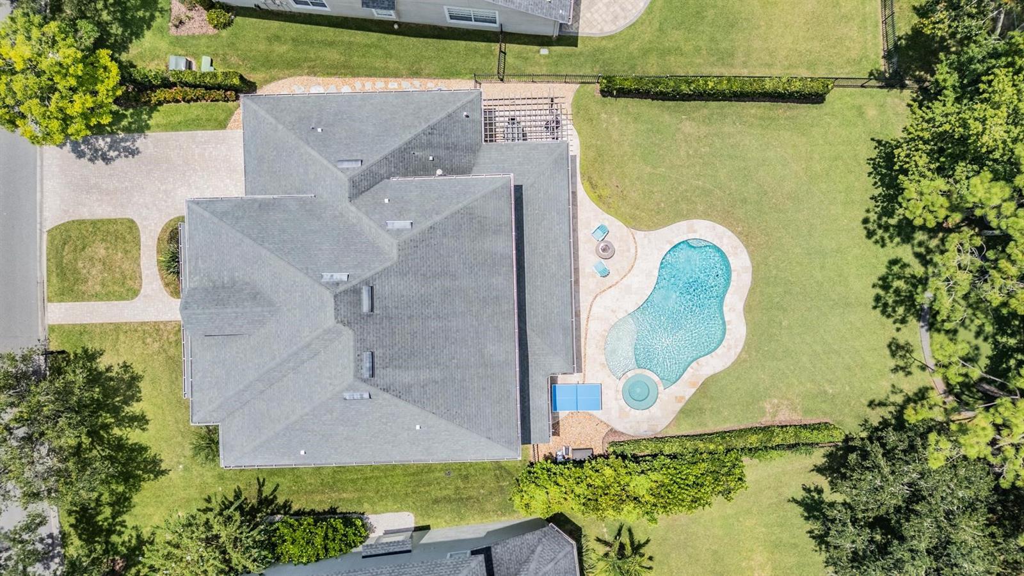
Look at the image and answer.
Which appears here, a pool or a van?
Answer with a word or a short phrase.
pool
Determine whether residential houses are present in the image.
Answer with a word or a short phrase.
Yes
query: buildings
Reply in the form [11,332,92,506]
[214,0,573,37]
[178,87,578,470]
[221,519,581,576]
